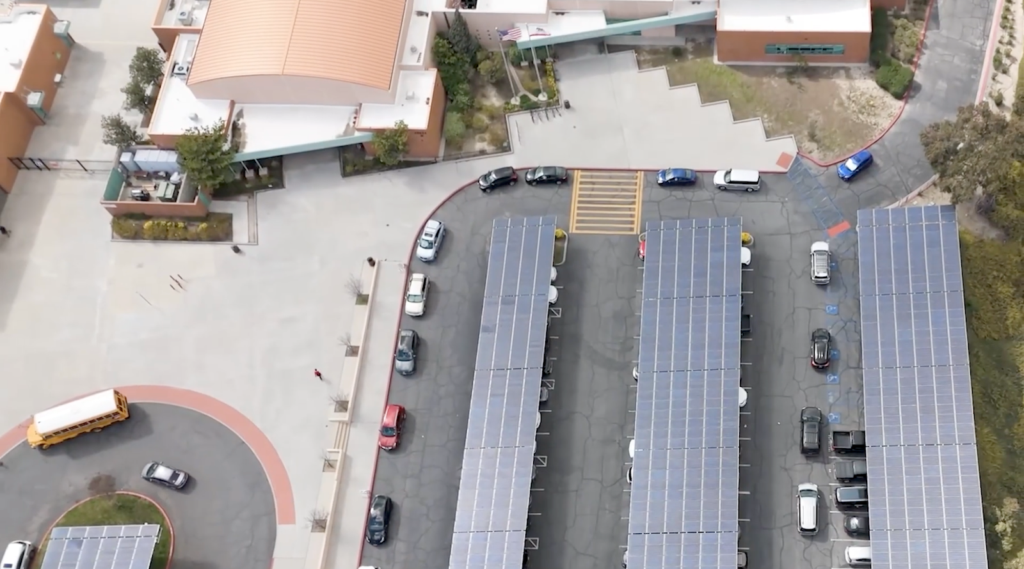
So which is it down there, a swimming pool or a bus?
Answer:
bus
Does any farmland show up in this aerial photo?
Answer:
No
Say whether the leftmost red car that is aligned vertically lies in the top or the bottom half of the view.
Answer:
bottom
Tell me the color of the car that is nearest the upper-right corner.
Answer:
blue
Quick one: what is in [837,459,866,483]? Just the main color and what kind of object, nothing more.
gray truck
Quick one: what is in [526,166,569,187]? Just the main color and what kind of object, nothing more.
gray car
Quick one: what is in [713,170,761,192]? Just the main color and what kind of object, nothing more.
white vehicle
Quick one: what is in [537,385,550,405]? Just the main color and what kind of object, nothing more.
gray vehicle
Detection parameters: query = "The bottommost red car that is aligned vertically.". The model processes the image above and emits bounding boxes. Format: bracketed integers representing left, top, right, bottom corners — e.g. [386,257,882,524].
[379,404,405,451]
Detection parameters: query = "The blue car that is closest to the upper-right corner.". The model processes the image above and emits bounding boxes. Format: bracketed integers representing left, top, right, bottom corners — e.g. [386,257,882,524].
[834,148,879,182]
